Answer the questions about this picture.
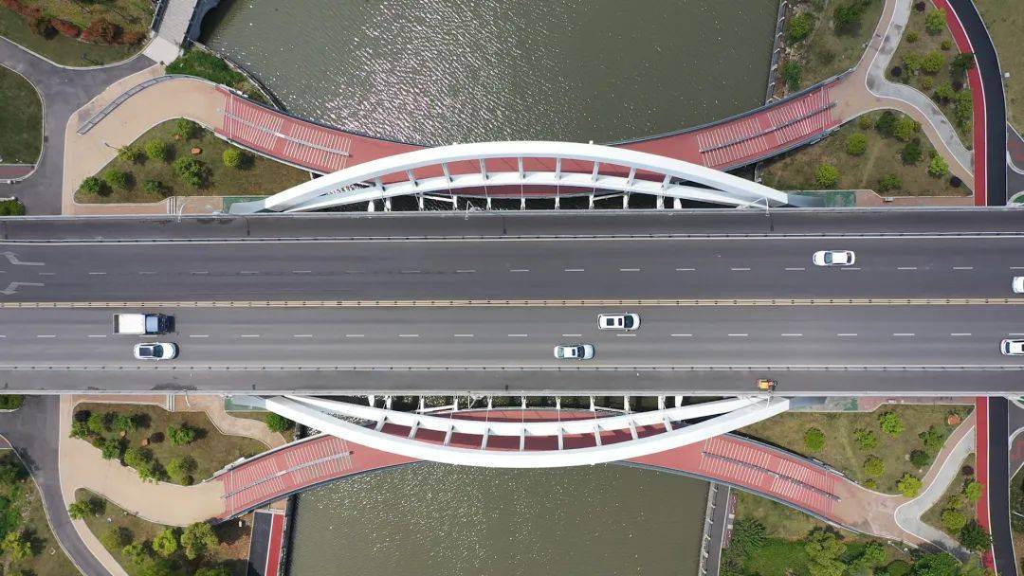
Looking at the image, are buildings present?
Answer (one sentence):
No, I can't see a single building in this photo.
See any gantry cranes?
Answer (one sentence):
No, there isn't any gantry crane down there.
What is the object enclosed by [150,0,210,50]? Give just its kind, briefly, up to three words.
bridge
